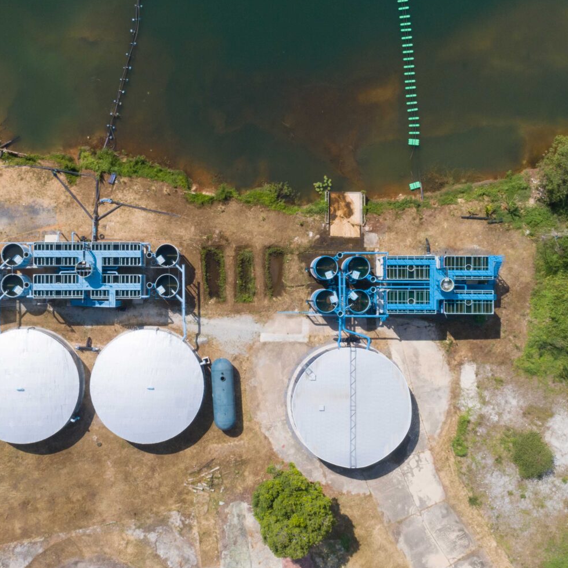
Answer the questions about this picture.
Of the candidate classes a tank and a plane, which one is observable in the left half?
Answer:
tank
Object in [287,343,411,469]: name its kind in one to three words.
storage tank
